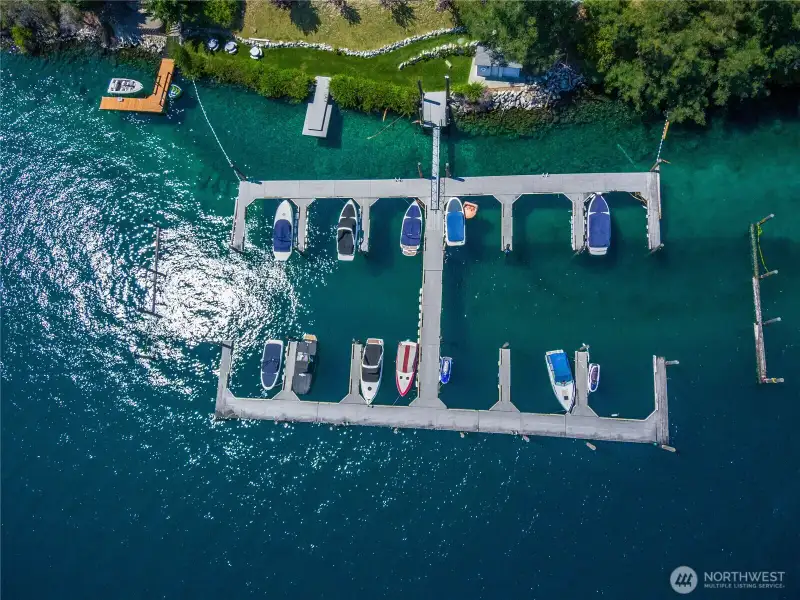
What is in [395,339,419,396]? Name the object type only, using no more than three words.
boat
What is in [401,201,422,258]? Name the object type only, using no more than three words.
boat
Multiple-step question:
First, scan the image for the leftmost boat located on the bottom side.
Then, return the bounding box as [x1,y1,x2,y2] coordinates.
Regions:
[260,340,285,390]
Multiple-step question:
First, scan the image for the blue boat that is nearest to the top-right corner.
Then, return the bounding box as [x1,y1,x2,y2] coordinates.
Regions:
[585,194,611,256]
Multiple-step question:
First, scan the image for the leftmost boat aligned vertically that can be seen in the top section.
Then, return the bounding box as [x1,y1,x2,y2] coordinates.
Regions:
[274,200,295,263]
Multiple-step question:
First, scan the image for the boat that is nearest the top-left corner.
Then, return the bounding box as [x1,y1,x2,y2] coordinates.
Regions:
[106,79,142,97]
